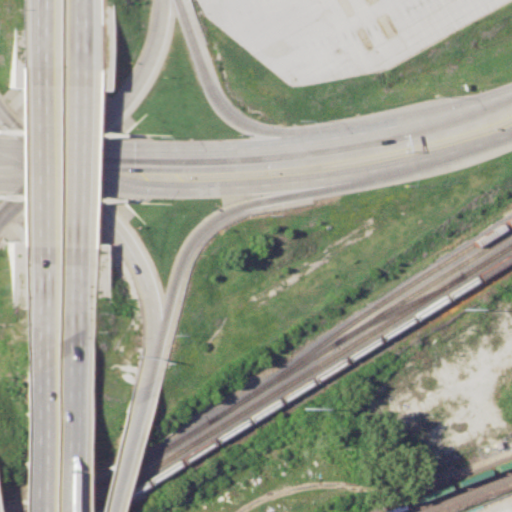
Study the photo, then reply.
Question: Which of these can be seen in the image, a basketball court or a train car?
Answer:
train car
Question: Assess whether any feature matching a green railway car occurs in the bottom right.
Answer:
Yes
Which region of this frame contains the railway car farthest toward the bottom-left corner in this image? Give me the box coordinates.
[132,482,158,502]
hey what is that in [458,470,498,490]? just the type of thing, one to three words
rail car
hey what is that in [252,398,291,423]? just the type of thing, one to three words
rail car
